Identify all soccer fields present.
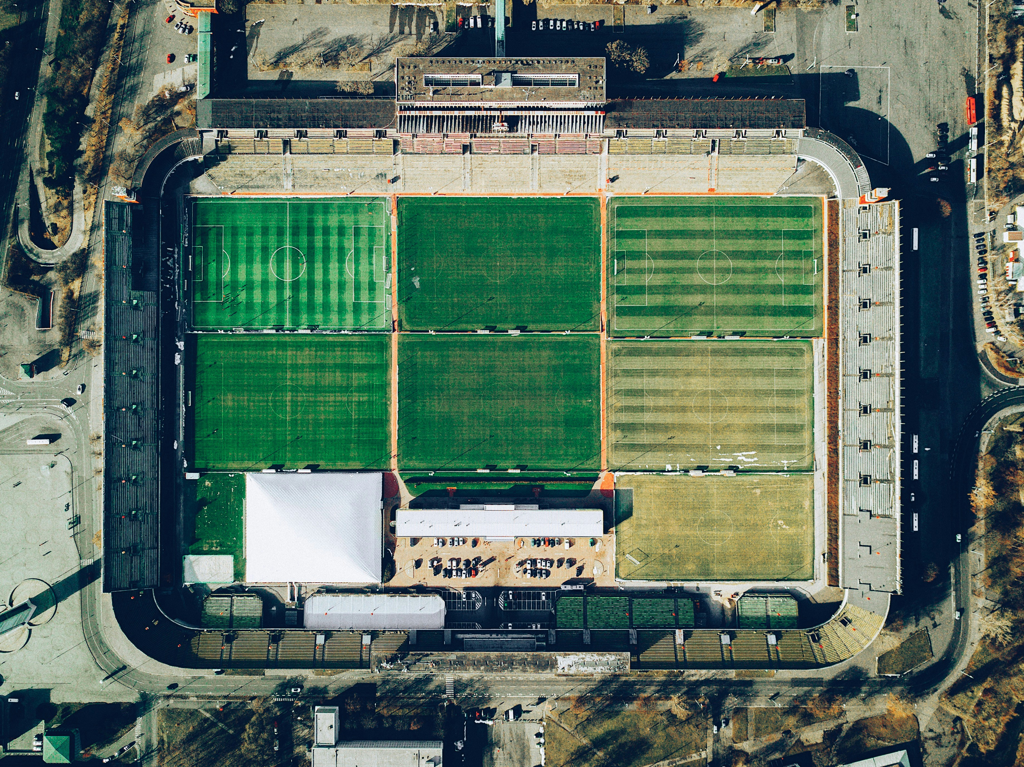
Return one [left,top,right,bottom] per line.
[606,197,822,338]
[185,333,392,472]
[616,473,813,580]
[606,339,813,472]
[398,333,600,472]
[398,197,600,332]
[185,196,392,332]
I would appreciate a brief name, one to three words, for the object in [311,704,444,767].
building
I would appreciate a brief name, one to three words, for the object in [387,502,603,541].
building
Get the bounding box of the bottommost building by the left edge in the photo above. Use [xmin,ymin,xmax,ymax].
[43,718,94,763]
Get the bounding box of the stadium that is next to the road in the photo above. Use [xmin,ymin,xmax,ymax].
[102,96,906,671]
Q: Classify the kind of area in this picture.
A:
sports ground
